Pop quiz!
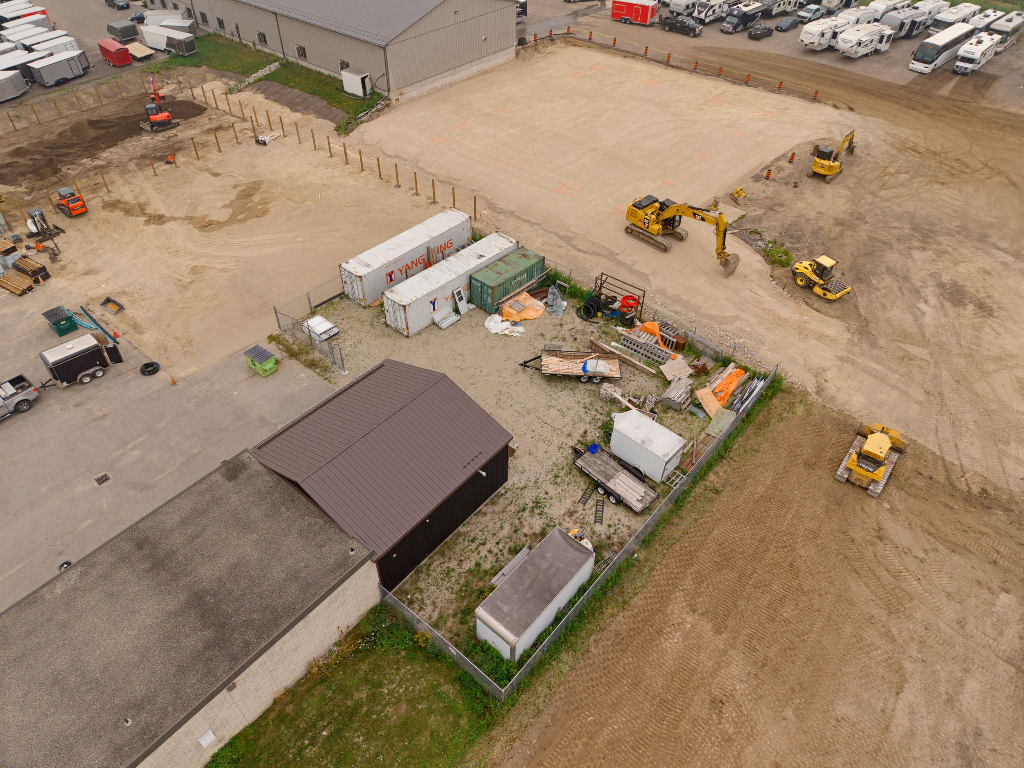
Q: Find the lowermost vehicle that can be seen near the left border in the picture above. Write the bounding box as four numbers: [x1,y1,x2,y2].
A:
[0,376,42,417]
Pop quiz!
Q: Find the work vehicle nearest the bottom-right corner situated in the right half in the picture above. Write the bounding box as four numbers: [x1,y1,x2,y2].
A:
[836,422,910,494]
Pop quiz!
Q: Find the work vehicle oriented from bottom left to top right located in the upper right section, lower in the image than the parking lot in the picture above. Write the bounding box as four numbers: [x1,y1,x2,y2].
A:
[809,125,854,183]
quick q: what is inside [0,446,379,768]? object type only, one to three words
building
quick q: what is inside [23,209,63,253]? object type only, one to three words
work vehicle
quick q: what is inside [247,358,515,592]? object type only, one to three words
building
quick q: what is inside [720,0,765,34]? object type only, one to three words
camper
